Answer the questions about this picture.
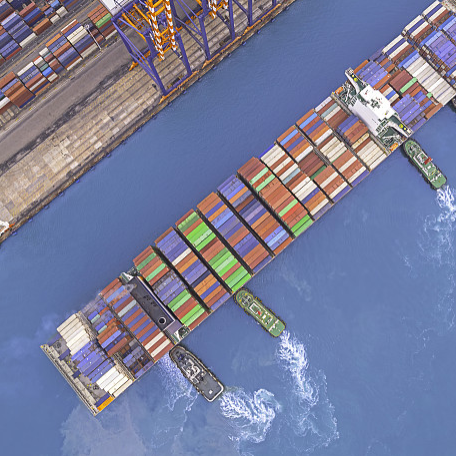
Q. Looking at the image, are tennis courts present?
No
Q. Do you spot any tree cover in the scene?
No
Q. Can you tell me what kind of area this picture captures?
port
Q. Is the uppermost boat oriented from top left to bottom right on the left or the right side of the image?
right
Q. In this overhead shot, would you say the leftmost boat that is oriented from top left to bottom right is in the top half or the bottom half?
bottom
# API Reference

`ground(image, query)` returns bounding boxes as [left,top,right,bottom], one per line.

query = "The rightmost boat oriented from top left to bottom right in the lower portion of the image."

[233,287,287,341]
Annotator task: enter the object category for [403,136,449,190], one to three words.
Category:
boat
